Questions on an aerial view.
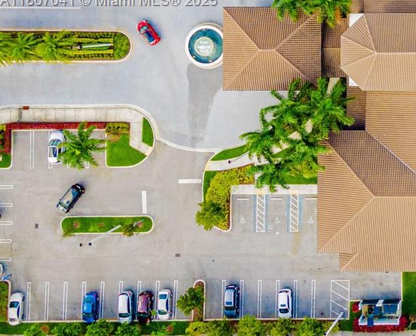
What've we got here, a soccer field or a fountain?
fountain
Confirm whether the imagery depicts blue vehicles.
Yes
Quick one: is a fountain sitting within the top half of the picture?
Yes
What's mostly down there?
paved ground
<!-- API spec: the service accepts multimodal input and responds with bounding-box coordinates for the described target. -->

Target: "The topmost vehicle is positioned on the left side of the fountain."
[135,19,159,47]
